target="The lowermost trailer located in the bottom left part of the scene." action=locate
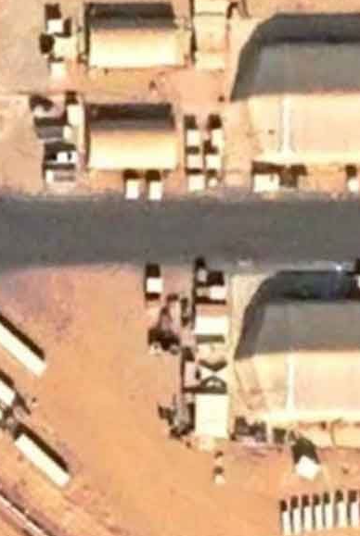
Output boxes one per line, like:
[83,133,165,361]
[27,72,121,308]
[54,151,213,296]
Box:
[14,435,69,487]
